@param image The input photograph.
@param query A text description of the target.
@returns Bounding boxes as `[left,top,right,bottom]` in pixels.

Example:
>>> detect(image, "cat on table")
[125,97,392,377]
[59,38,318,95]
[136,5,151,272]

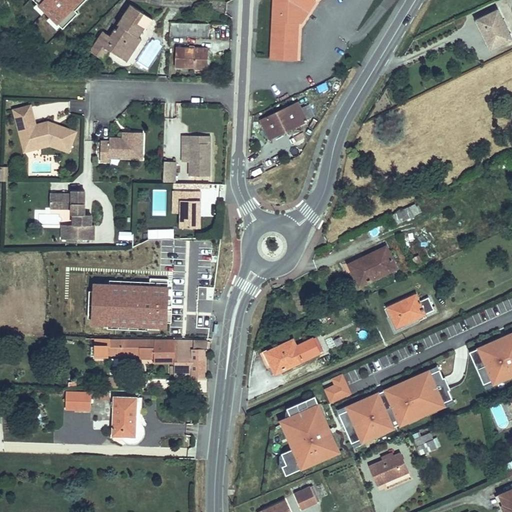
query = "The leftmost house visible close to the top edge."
[34,0,87,43]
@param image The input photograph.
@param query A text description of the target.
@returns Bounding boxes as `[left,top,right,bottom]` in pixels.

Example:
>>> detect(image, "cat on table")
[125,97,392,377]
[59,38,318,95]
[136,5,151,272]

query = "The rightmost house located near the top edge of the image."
[474,10,512,51]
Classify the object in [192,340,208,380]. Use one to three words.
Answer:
house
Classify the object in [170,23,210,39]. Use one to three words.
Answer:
building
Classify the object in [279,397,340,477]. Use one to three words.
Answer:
house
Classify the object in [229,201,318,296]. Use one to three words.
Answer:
roundabout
